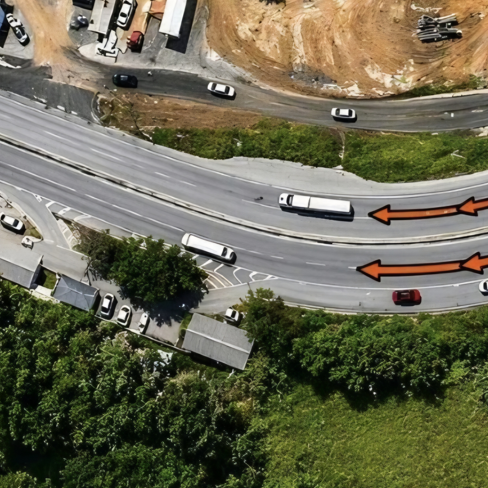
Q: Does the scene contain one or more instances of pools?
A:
No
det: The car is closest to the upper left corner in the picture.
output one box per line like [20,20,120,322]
[10,14,31,43]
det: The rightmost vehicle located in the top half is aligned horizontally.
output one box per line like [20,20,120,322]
[330,108,358,121]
